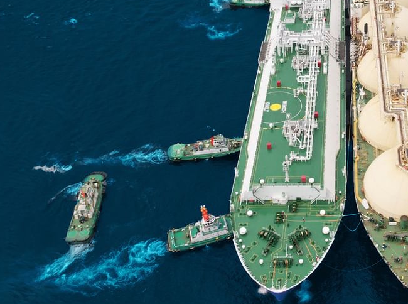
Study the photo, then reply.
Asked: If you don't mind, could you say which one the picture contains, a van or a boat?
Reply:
boat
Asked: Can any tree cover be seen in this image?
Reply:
No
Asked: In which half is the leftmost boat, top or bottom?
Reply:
bottom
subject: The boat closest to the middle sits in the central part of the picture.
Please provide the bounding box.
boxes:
[167,125,242,162]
